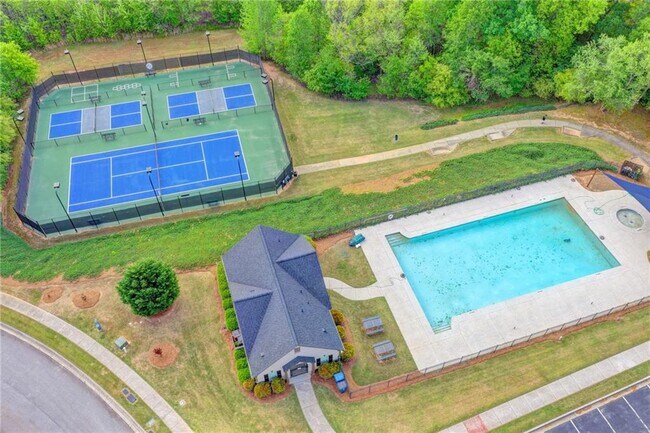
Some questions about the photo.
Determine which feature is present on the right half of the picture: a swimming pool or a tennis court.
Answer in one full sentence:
The one visible on the right half of the picture is a swimming pool.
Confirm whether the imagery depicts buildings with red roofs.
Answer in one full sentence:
No, there appears to be no building with a red roof in this shot.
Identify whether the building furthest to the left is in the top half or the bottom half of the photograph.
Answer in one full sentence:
Seen from above, the building furthest to the left lies in the bottom half of the view.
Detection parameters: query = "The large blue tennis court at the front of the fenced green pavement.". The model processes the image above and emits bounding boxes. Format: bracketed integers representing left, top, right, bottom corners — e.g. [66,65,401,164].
[68,129,249,213]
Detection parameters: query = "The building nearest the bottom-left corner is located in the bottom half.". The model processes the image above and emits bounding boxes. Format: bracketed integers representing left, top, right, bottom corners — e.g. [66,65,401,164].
[219,226,346,389]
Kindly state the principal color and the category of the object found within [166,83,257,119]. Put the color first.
blue sports court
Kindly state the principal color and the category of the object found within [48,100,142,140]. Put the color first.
blue sports court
